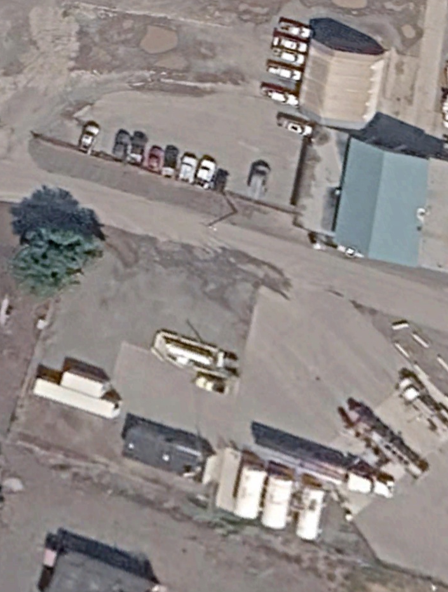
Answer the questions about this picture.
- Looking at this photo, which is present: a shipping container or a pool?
shipping container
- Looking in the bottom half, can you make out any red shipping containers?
No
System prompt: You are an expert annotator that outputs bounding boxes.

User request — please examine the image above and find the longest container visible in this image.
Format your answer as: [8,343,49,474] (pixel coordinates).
[216,448,244,510]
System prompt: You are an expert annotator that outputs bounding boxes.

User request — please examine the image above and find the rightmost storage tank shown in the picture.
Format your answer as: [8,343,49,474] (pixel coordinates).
[295,490,324,538]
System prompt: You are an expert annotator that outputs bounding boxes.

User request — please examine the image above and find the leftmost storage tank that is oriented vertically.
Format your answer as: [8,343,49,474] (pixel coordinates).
[236,469,266,516]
